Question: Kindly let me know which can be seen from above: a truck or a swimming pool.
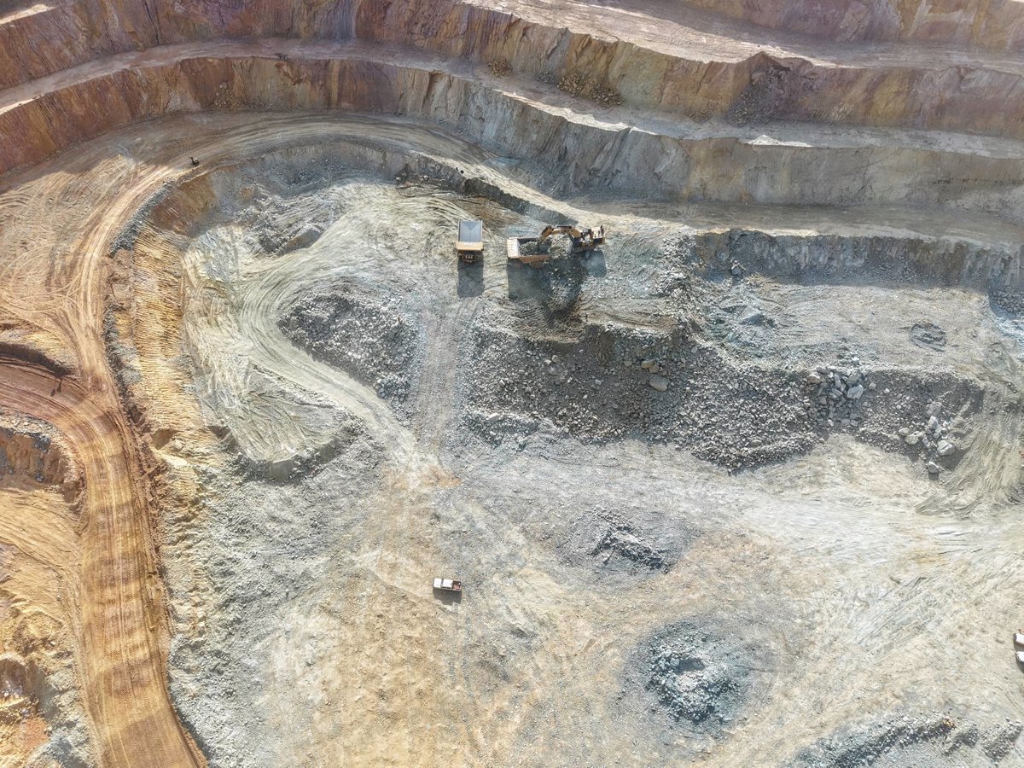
truck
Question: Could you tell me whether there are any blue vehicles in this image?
No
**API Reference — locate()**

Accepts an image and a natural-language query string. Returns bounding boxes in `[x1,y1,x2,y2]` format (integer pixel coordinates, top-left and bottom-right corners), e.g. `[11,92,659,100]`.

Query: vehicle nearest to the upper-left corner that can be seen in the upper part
[454,217,484,264]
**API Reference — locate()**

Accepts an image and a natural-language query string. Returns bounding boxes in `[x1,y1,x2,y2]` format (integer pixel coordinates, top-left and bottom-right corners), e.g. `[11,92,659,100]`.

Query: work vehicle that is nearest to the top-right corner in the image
[542,227,612,260]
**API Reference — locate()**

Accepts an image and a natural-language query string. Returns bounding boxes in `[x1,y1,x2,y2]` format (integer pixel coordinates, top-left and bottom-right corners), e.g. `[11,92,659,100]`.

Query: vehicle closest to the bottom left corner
[433,579,462,592]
